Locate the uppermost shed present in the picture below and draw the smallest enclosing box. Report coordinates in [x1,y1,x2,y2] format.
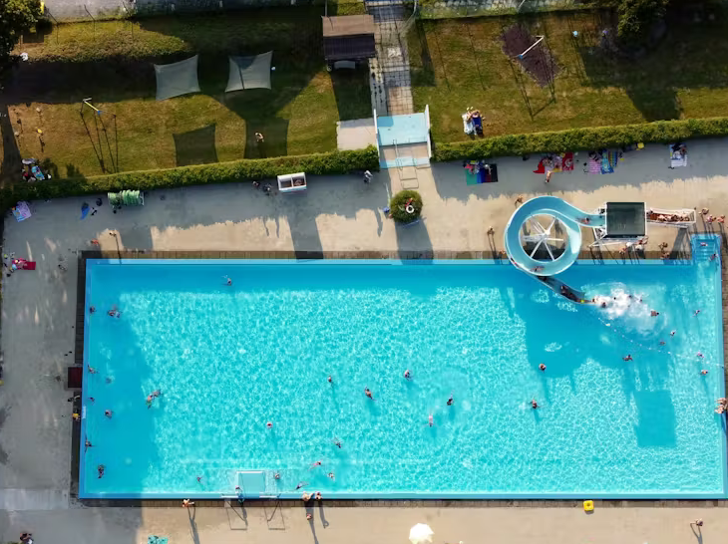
[320,14,374,62]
